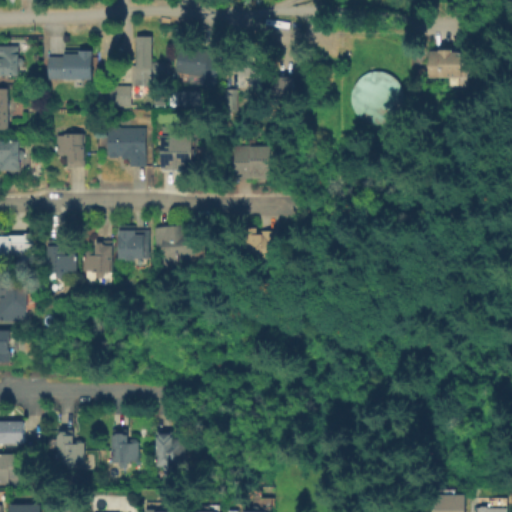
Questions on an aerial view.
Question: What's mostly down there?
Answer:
trees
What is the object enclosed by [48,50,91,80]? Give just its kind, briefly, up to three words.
house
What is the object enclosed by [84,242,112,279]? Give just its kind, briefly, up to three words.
house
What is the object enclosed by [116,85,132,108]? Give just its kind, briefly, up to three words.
building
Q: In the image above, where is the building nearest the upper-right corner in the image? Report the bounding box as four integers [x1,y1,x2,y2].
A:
[428,50,462,78]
